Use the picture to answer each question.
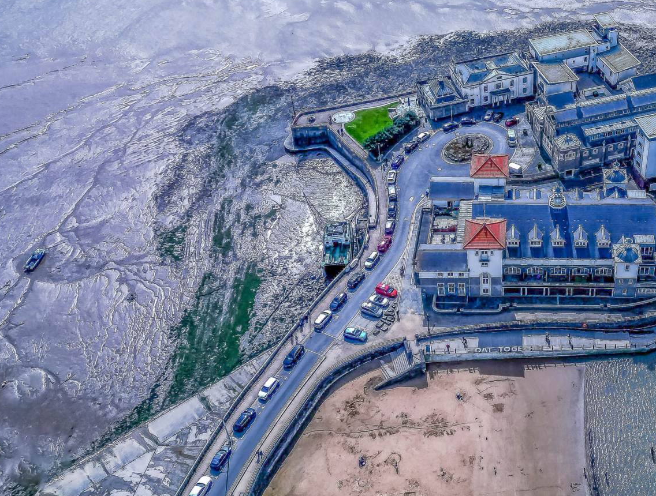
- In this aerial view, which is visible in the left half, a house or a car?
car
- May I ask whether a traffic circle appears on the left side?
No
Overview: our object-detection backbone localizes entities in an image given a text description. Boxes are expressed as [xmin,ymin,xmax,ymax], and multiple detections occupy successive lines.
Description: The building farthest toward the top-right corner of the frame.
[528,11,642,89]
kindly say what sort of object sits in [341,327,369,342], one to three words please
car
